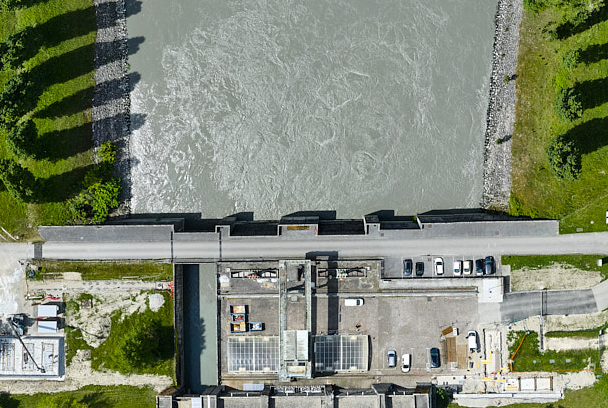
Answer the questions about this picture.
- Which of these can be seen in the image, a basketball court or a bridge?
bridge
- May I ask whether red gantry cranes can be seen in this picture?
No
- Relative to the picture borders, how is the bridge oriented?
horizontally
